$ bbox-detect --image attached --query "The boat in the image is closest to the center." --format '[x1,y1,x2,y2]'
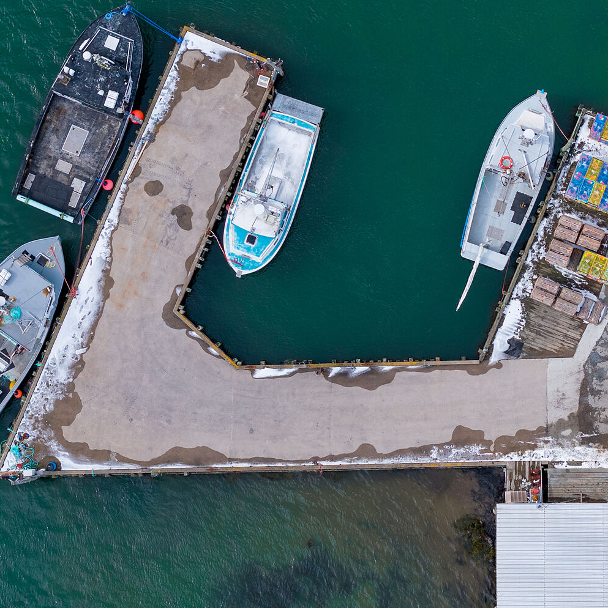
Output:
[223,93,325,278]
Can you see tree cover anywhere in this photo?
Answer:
No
